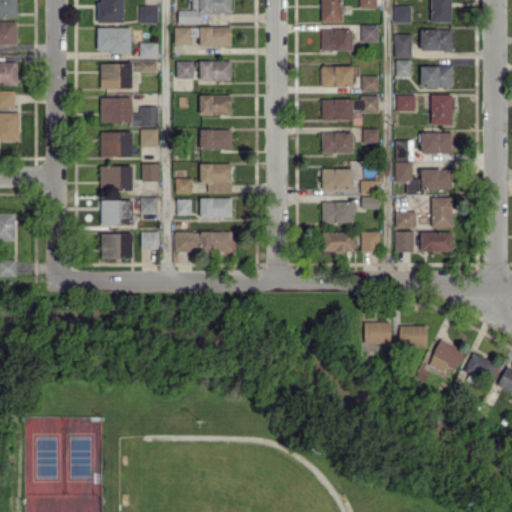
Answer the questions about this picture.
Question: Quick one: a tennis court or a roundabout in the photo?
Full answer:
Visible in the photo is a tennis court.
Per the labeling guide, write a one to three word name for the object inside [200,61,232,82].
house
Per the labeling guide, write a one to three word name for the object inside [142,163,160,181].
building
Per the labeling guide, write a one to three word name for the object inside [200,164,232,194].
house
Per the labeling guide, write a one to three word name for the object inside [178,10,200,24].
building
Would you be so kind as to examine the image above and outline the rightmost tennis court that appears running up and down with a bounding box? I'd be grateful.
[65,418,102,494]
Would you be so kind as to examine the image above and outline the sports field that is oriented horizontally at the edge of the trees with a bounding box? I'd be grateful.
[120,438,338,512]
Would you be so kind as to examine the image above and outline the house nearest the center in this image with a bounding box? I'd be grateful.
[200,232,234,254]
